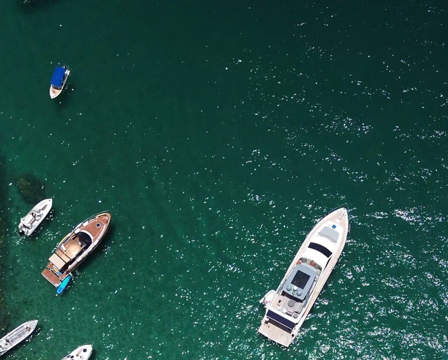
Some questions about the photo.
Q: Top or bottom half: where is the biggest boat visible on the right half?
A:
bottom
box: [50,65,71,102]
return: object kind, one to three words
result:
boat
